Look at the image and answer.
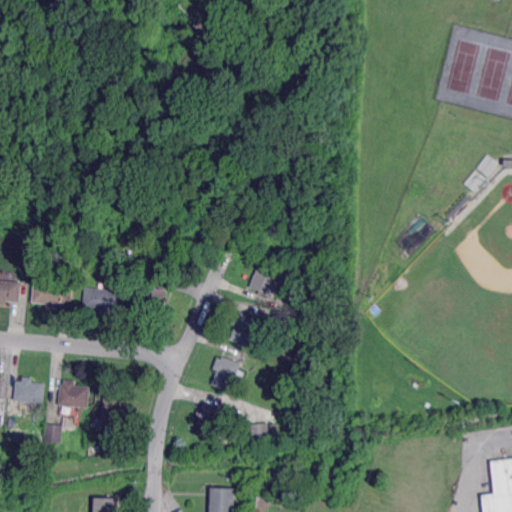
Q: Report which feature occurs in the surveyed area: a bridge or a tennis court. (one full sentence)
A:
This aerial view contains a tennis court.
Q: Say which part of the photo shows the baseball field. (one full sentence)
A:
The baseball field is in the right part of the image.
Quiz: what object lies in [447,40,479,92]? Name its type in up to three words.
tennis court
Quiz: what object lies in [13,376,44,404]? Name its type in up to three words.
house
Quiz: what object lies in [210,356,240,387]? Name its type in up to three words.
house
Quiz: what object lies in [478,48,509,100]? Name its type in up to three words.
tennis court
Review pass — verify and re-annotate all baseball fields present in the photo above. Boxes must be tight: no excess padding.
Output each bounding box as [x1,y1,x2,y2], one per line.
[366,175,512,405]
